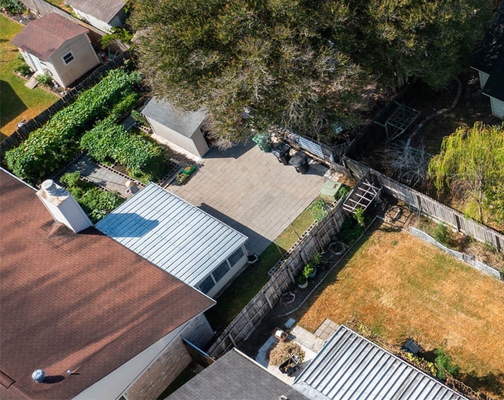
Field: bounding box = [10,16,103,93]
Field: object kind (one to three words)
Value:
shed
